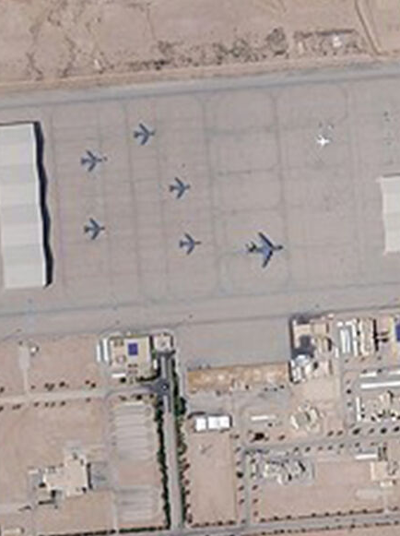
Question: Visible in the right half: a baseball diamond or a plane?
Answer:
plane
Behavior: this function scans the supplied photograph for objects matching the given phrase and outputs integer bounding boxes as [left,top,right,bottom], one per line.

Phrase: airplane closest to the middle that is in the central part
[180,233,201,255]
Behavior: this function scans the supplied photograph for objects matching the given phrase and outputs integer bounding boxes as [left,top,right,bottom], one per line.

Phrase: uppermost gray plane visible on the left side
[133,124,154,145]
